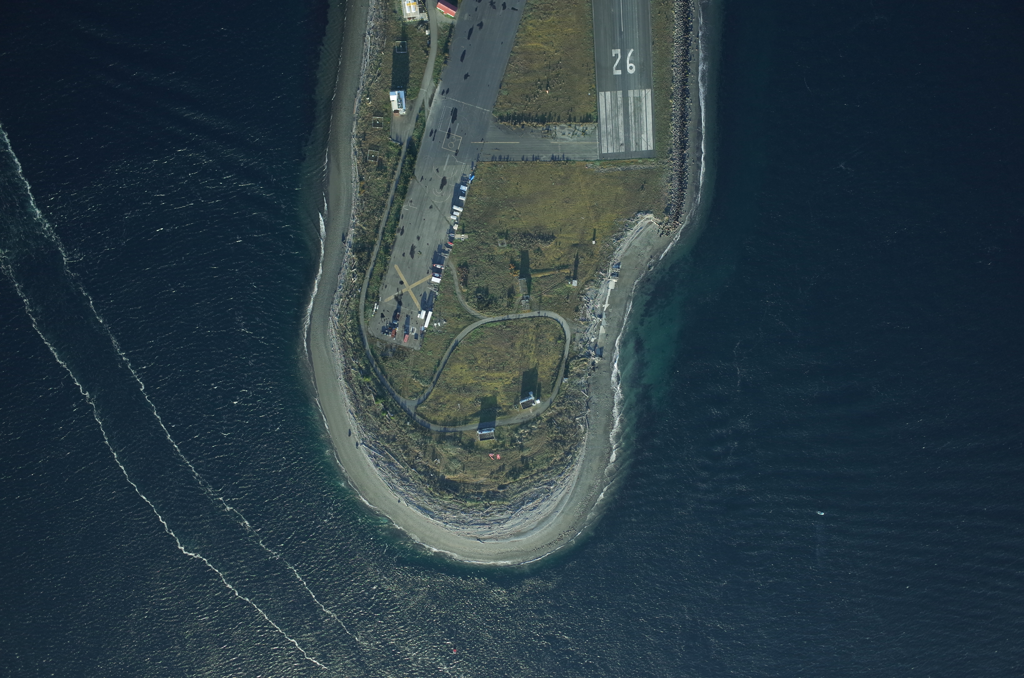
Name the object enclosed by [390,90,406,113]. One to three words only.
building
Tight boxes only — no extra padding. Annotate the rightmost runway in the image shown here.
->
[592,0,656,160]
